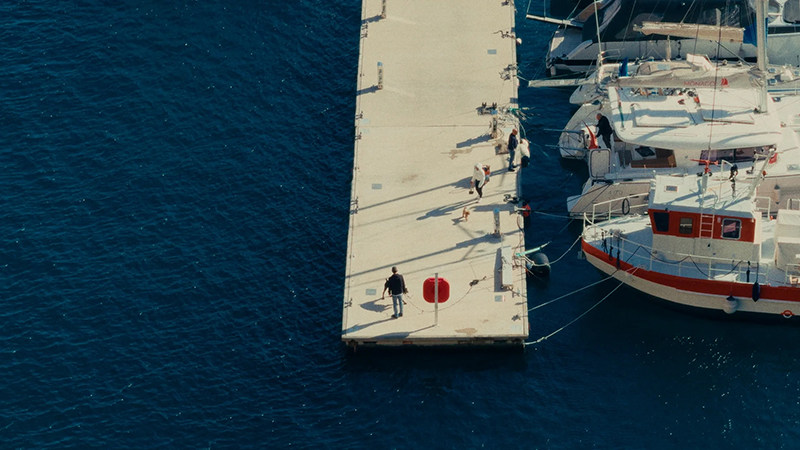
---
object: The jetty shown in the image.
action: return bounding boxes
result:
[342,0,528,355]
